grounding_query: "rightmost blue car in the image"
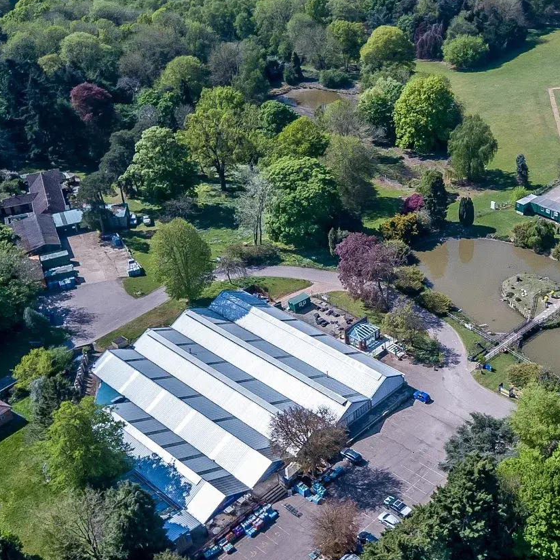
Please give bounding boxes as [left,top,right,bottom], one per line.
[413,388,431,402]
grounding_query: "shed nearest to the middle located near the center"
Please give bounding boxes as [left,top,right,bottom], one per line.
[286,295,313,315]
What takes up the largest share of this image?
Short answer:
trees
